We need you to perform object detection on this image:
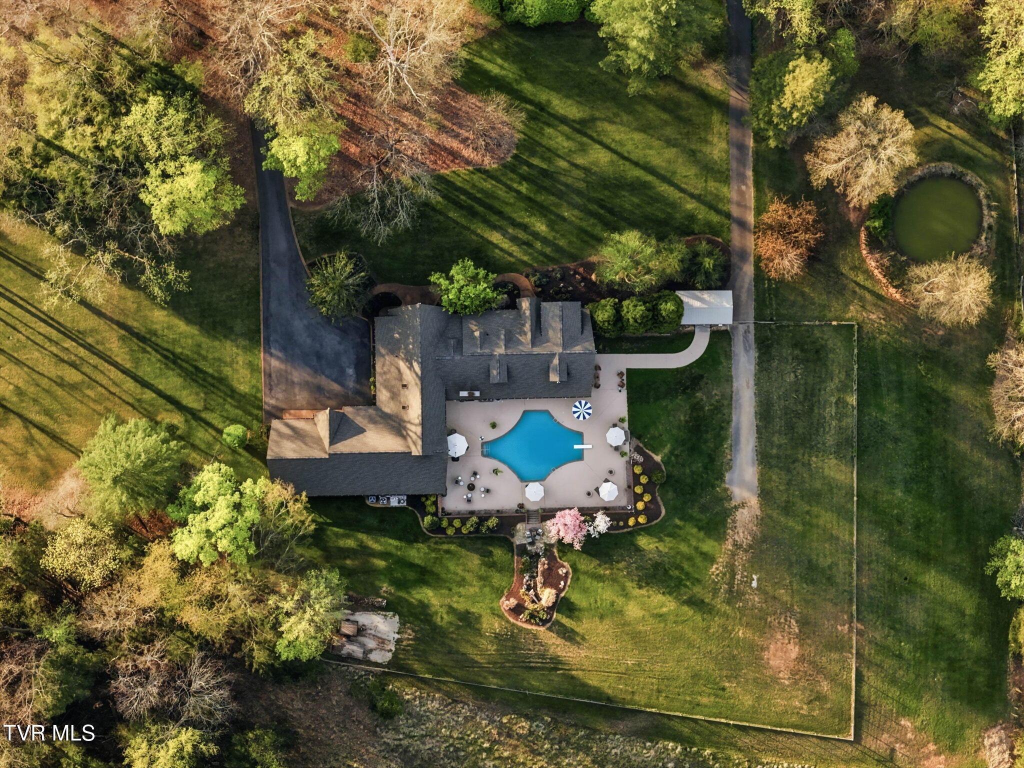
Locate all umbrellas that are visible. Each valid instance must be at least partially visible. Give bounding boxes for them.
[605,427,624,446]
[571,400,591,420]
[448,432,469,456]
[525,482,543,500]
[598,481,617,500]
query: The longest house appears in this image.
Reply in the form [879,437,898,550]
[267,298,597,497]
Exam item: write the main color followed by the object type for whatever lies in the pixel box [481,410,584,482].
blue swimming pool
